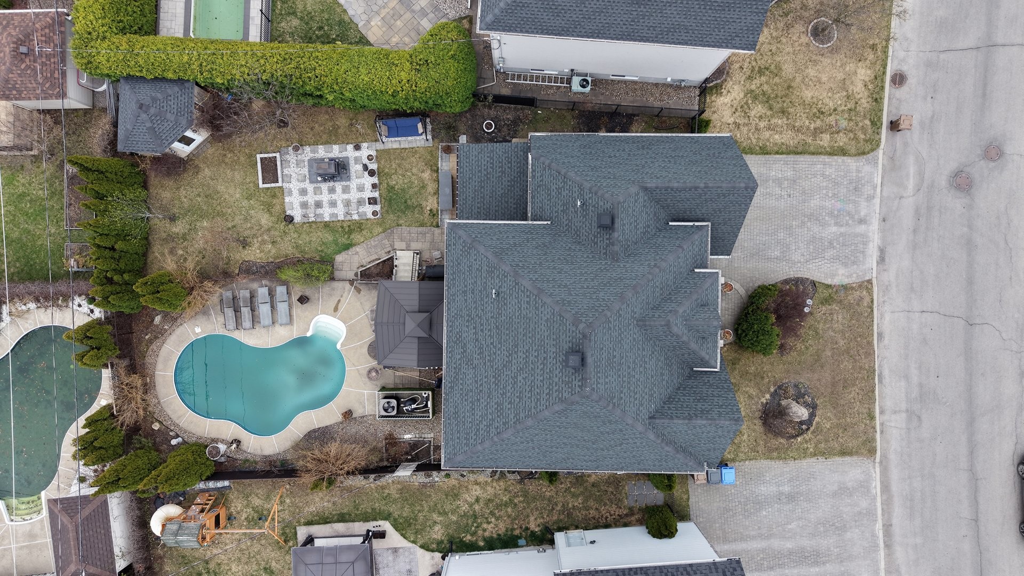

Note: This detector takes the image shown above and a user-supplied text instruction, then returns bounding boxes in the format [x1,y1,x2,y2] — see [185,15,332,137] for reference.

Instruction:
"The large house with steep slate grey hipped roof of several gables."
[443,131,759,475]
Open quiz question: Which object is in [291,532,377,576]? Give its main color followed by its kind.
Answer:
gray gazebo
